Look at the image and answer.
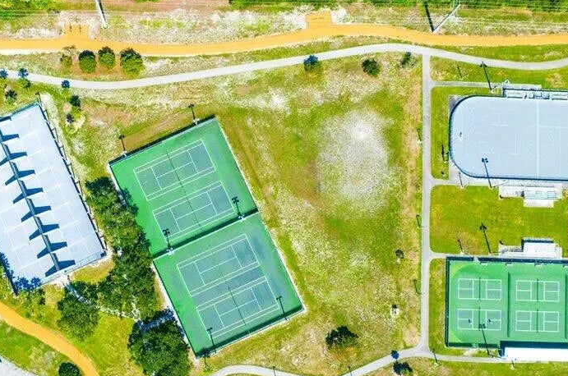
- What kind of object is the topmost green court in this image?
tennis court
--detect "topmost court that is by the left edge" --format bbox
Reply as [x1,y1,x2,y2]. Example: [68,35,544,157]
[0,105,46,141]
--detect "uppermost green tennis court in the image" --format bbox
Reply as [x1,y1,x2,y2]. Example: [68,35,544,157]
[110,118,237,211]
